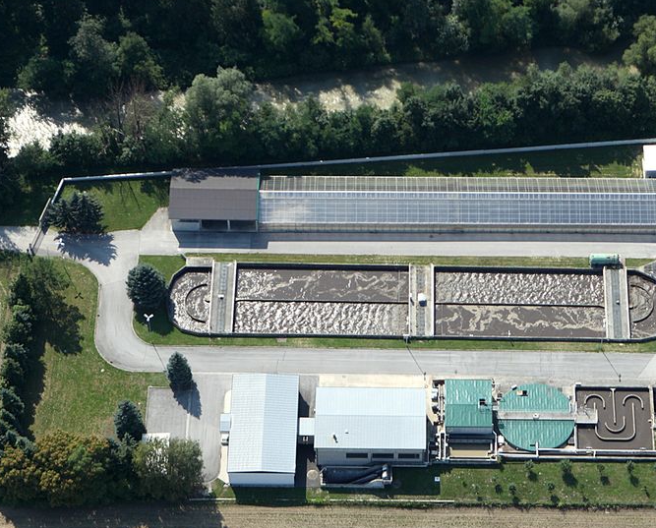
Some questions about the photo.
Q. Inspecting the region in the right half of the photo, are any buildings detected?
Yes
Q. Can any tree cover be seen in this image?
Yes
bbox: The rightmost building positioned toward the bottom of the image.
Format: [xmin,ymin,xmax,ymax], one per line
[444,380,493,435]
